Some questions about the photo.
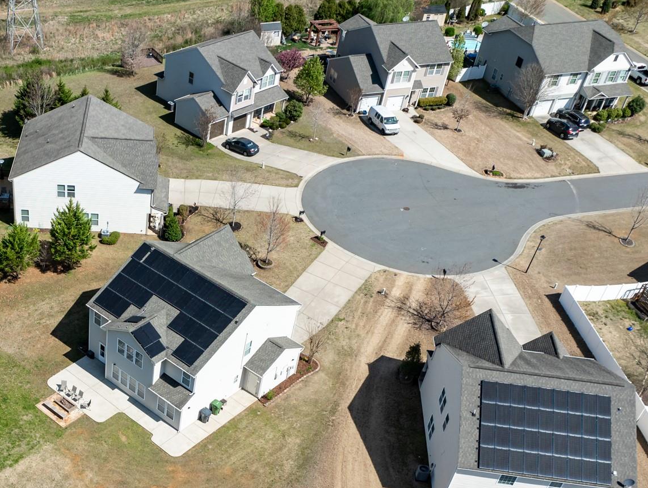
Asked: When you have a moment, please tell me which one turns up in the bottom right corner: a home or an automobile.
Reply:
home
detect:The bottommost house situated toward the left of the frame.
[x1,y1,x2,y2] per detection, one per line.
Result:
[85,226,304,434]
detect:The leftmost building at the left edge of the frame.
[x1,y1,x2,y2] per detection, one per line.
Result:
[7,94,171,235]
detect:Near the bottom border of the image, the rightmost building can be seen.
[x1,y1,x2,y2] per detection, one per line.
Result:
[413,308,639,488]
